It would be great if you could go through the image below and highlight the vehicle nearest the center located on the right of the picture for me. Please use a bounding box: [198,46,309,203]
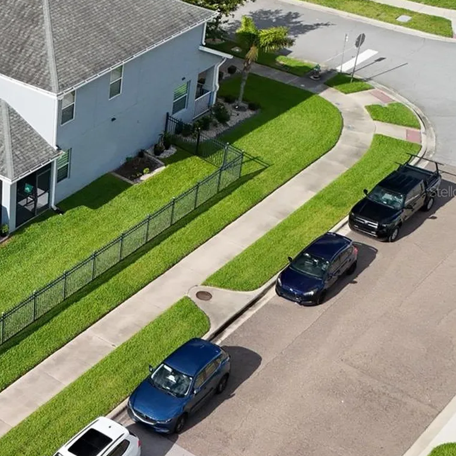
[276,227,365,304]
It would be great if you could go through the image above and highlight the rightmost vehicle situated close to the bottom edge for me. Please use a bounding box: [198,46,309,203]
[129,336,241,434]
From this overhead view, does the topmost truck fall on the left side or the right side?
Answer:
right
